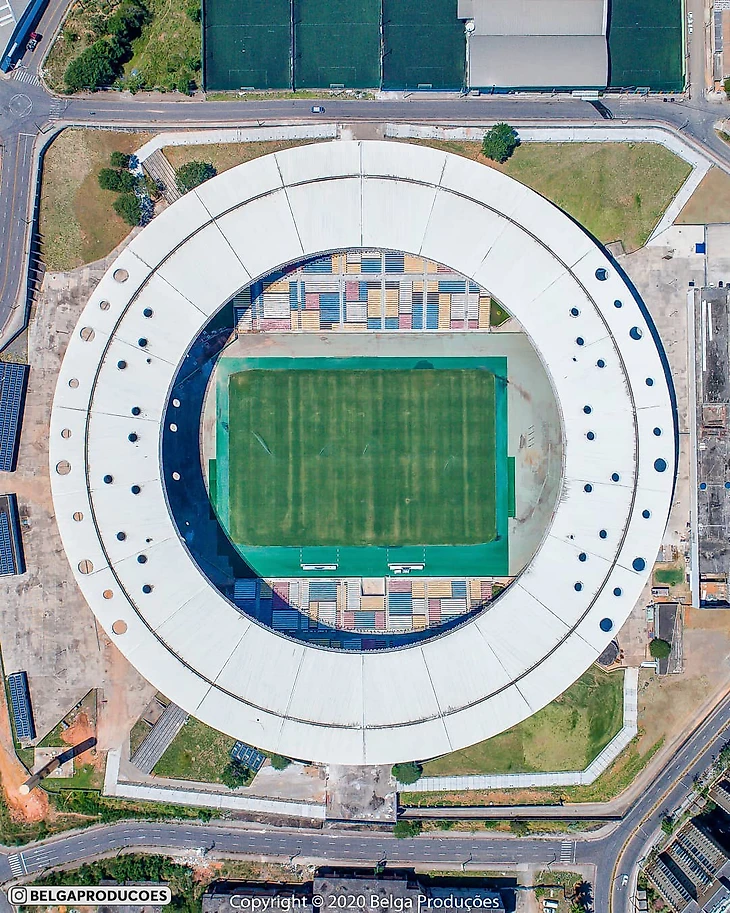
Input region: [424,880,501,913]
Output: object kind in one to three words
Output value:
building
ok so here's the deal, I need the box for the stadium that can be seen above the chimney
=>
[49,141,675,765]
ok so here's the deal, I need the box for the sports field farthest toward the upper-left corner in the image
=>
[206,0,289,87]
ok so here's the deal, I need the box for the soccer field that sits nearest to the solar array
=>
[209,357,516,577]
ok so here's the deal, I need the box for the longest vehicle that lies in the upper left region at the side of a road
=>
[26,32,38,48]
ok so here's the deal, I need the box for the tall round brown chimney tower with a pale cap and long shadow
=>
[21,757,64,794]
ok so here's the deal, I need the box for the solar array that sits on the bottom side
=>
[229,739,267,772]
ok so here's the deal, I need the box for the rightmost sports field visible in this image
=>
[611,0,683,90]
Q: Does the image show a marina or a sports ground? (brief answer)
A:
sports ground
